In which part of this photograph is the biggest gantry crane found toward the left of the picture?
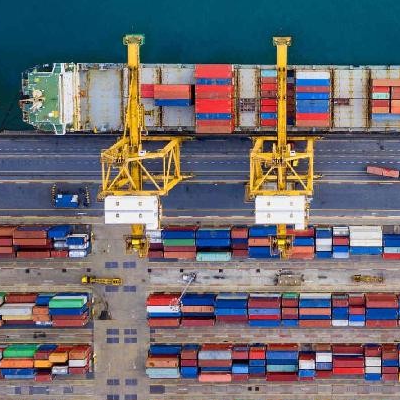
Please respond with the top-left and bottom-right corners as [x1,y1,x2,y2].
[98,31,194,262]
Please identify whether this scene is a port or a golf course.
port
